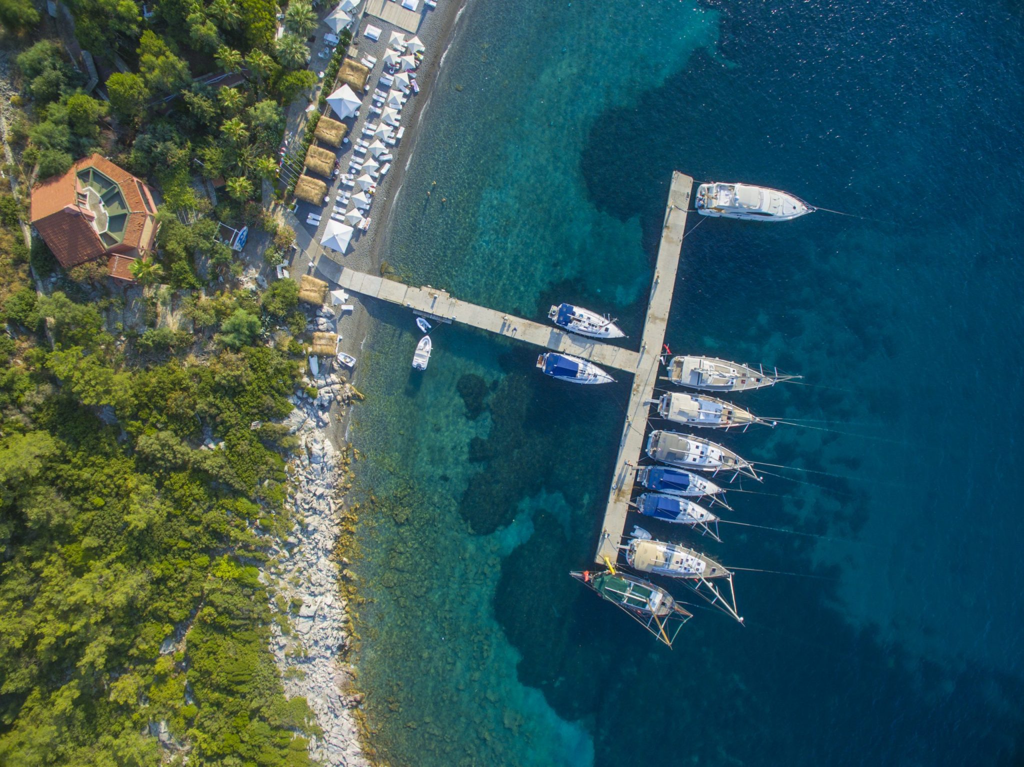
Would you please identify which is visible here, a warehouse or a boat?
boat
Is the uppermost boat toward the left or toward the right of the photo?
right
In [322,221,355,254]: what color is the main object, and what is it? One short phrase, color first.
white umbrella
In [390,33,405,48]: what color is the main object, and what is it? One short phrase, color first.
white umbrella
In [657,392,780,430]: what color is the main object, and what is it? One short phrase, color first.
white boat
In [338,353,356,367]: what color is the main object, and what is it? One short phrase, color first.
white boat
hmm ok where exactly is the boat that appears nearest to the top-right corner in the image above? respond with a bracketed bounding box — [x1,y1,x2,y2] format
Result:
[692,185,819,226]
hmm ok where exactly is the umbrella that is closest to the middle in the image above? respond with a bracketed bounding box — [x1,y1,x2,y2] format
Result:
[332,290,347,305]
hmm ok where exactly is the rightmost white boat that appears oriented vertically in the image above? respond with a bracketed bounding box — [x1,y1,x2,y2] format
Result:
[414,336,433,373]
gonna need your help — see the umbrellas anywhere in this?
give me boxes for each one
[383,107,398,123]
[335,0,361,16]
[332,290,347,305]
[327,11,352,36]
[384,50,400,67]
[352,192,369,209]
[407,37,425,55]
[390,33,405,48]
[389,90,404,106]
[402,56,417,72]
[376,124,393,141]
[363,159,380,177]
[396,74,411,89]
[328,87,364,122]
[322,221,355,254]
[369,140,388,158]
[358,174,375,192]
[346,208,364,227]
